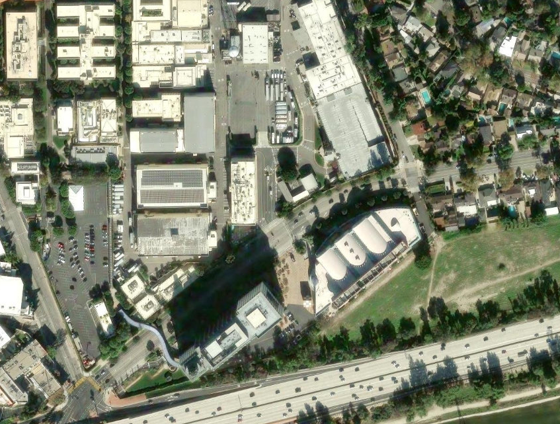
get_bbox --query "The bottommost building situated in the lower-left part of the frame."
[0,337,62,407]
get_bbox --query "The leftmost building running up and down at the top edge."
[5,11,38,79]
